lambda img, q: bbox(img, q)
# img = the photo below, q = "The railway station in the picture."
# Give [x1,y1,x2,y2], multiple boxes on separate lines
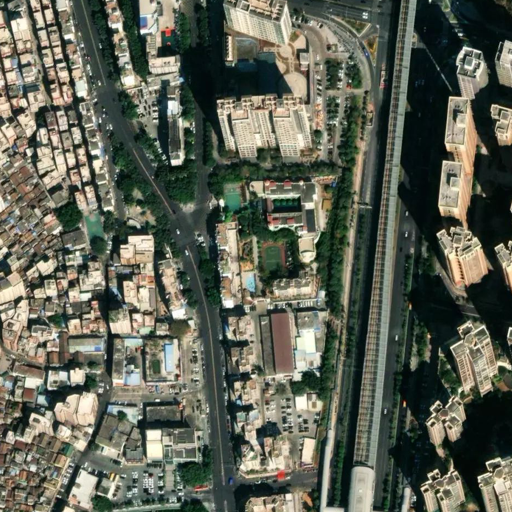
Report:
[346,466,376,512]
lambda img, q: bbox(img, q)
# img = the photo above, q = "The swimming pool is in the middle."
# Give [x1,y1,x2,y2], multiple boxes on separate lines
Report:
[241,272,258,294]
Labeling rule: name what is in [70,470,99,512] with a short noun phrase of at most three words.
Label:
building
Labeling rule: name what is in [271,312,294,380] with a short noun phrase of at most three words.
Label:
house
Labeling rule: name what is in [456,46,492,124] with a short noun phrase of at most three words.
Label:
building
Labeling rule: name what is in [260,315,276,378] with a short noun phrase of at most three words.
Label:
house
